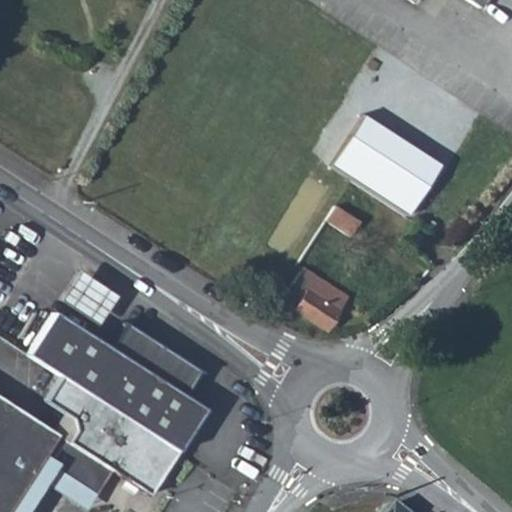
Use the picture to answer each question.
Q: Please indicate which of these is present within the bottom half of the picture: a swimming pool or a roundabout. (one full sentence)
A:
You can see a roundabout within the bottom half of the picture.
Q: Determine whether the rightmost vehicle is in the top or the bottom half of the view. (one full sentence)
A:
Seen from above, the rightmost vehicle lies in the top half of the view.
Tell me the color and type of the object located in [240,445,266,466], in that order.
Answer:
white truck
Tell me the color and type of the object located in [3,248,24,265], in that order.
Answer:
white car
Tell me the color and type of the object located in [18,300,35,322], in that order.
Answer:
white car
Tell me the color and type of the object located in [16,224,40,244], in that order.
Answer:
white vehicle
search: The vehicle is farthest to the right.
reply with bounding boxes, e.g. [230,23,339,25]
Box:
[485,4,510,24]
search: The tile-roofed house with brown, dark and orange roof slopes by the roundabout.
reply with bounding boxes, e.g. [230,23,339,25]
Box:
[298,267,350,334]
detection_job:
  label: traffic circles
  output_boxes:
[292,369,412,489]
